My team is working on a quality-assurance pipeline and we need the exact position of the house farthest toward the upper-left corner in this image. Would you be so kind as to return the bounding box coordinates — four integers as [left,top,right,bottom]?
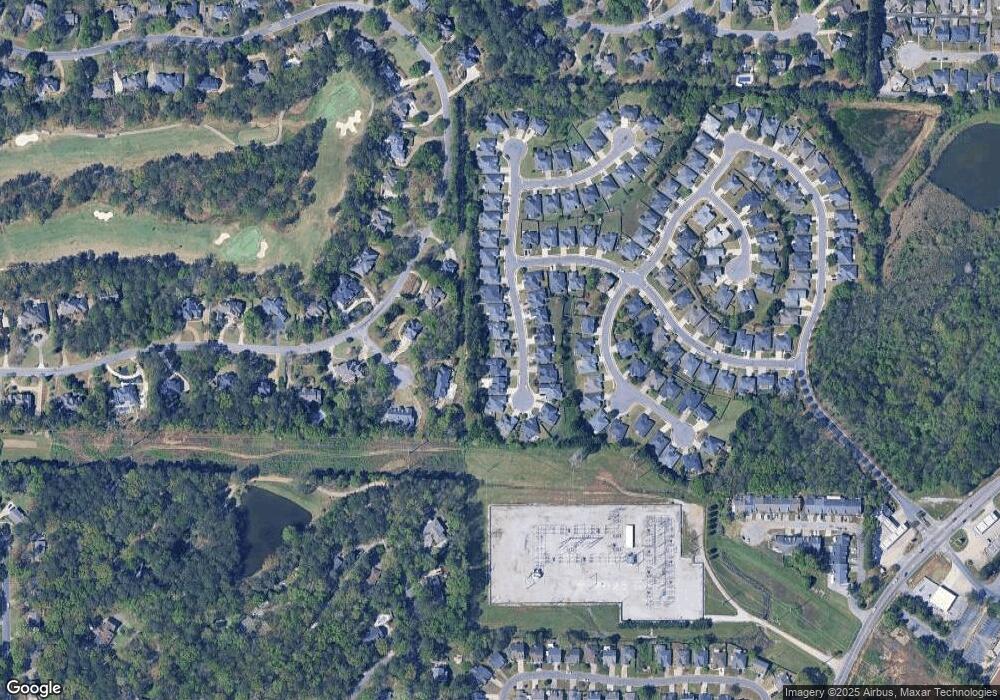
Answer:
[21,2,48,22]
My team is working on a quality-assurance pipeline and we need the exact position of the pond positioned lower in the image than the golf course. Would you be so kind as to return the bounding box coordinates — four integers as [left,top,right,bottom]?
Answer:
[236,485,312,579]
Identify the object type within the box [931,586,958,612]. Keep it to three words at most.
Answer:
building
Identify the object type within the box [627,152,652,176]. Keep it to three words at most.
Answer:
house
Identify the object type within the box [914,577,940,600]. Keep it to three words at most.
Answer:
building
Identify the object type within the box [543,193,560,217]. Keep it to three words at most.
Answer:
house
